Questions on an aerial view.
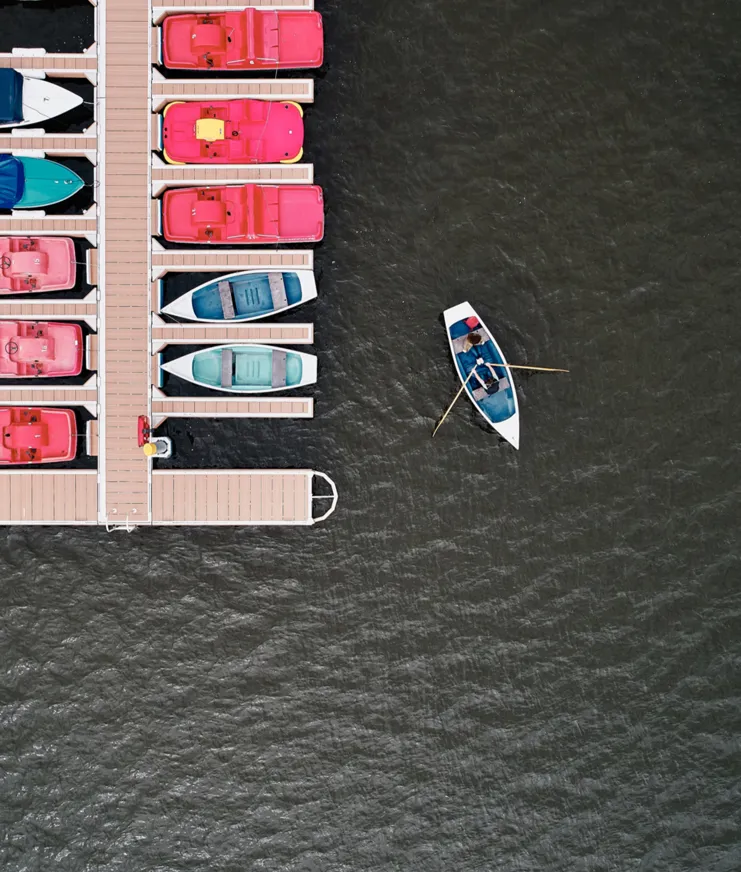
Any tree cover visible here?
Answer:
No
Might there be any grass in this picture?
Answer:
No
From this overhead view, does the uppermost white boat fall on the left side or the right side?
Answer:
left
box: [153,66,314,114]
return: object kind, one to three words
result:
pier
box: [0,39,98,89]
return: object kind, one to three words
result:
pier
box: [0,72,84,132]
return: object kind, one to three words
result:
boat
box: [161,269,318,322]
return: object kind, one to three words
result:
boat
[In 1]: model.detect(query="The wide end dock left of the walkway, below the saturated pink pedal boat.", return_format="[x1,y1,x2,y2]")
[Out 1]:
[0,469,98,525]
